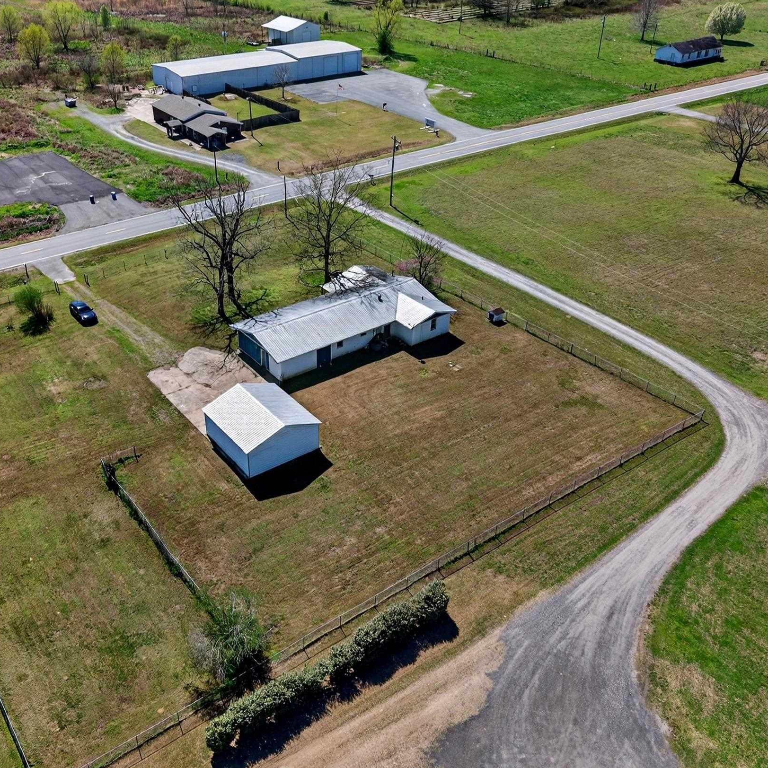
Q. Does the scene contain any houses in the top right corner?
Yes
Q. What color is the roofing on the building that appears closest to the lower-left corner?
white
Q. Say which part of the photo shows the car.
left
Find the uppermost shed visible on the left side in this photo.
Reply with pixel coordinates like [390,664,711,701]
[256,13,320,45]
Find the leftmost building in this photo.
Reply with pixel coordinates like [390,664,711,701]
[152,97,252,150]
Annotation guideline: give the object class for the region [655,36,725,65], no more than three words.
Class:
house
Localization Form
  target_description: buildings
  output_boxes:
[200,383,325,478]
[486,308,506,326]
[655,36,725,65]
[256,13,320,45]
[231,264,457,381]
[152,97,252,150]
[157,39,364,94]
